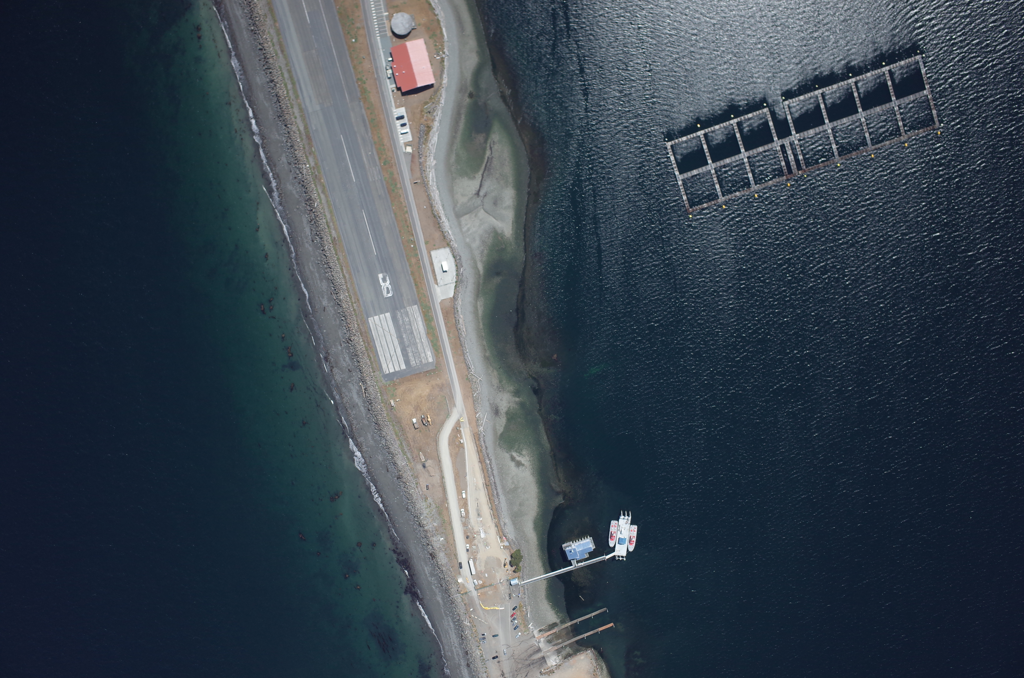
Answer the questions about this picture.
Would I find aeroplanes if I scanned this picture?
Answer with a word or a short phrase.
No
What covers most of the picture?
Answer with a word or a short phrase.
water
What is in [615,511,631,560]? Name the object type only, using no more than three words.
ship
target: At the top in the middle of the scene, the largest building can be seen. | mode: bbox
[391,38,435,92]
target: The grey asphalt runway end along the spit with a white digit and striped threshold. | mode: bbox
[272,0,435,381]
